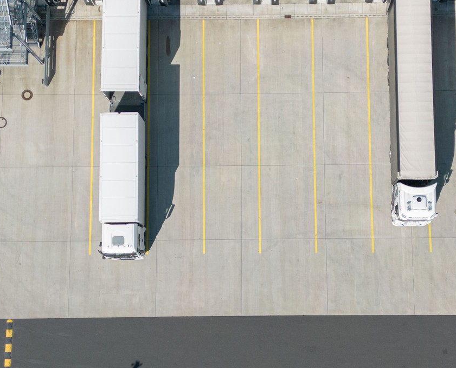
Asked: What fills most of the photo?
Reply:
paved ground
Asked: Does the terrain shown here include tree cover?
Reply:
No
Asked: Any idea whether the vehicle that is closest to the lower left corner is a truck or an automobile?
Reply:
truck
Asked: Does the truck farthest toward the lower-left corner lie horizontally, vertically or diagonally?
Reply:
vertically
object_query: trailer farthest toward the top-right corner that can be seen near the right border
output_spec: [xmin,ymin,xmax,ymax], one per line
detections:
[385,0,438,188]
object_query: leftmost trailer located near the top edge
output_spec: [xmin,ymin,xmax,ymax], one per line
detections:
[101,0,149,123]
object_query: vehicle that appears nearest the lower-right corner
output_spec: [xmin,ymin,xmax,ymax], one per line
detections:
[389,163,439,226]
